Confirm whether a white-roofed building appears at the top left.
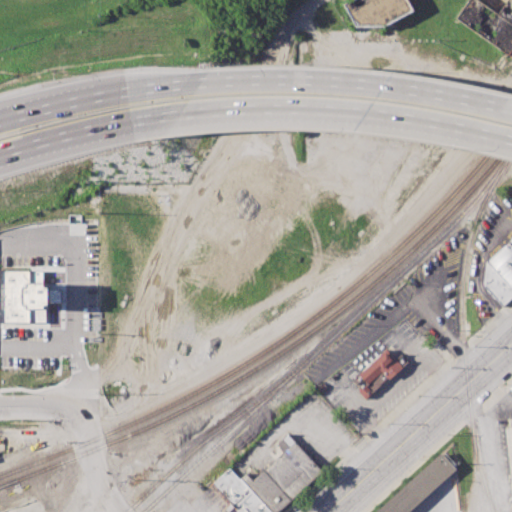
No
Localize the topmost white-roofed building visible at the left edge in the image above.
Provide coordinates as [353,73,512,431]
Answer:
[4,271,62,323]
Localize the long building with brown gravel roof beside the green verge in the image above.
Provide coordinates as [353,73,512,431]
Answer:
[379,454,458,512]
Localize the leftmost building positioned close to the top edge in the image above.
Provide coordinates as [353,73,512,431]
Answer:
[344,0,414,30]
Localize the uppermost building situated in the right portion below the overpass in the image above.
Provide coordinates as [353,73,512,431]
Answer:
[482,246,512,304]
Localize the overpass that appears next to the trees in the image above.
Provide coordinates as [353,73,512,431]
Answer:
[0,66,512,181]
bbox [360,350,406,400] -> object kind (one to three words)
building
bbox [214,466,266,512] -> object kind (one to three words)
building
